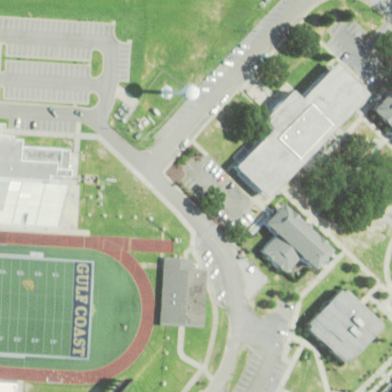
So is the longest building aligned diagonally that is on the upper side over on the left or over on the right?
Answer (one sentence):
The longest building aligned diagonally that is on the upper side appears in the right half of the scene.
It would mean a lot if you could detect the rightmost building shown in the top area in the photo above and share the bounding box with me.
[374,96,392,128]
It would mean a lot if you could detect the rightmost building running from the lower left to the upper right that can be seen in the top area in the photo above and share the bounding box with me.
[232,64,371,202]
